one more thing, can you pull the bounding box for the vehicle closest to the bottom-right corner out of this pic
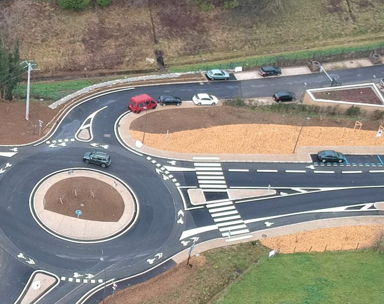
[316,148,348,162]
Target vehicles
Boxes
[377,77,384,87]
[191,92,220,104]
[158,92,183,104]
[272,90,298,101]
[257,62,284,77]
[203,68,232,80]
[129,95,158,113]
[83,150,111,166]
[316,148,348,162]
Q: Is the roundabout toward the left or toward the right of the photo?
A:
left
